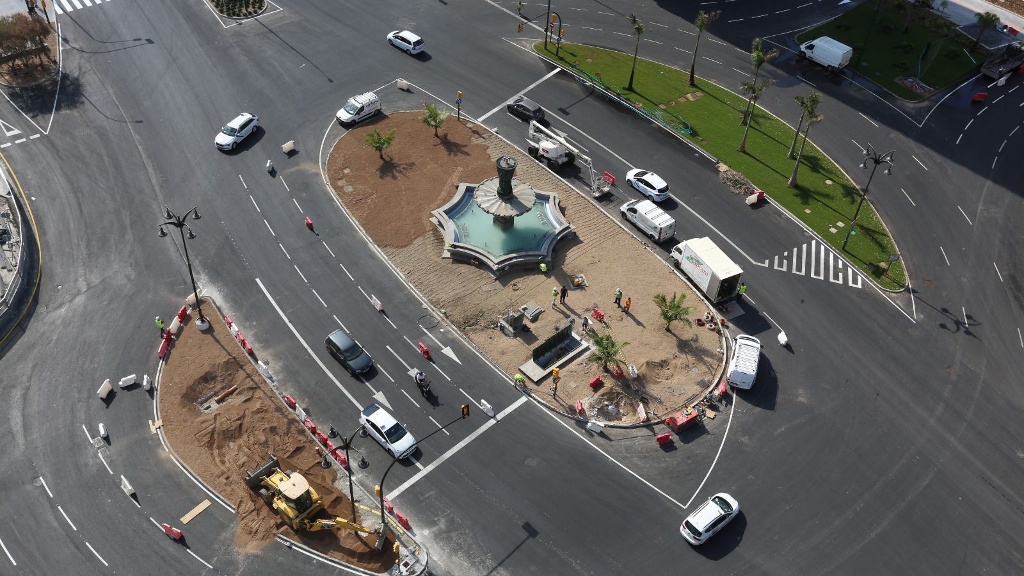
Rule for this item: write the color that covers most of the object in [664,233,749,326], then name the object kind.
white truck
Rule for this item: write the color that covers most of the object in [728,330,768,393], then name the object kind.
white van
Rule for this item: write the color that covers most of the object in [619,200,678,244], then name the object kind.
white van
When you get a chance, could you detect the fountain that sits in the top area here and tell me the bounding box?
[426,155,582,281]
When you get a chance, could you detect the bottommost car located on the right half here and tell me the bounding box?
[680,489,741,545]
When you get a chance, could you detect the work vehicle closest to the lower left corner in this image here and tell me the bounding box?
[240,453,389,555]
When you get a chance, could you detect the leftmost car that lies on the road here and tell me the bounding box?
[214,114,258,149]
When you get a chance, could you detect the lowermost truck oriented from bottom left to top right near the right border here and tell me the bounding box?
[982,28,1024,74]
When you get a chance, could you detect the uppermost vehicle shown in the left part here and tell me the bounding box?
[386,28,427,55]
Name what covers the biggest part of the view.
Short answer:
paved ground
